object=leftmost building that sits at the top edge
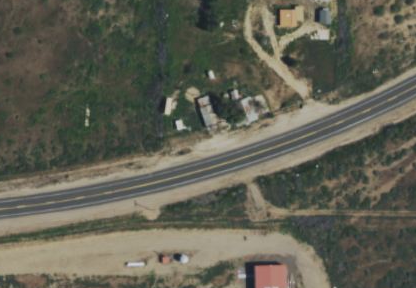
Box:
[280,6,304,26]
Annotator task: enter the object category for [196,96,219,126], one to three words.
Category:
house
